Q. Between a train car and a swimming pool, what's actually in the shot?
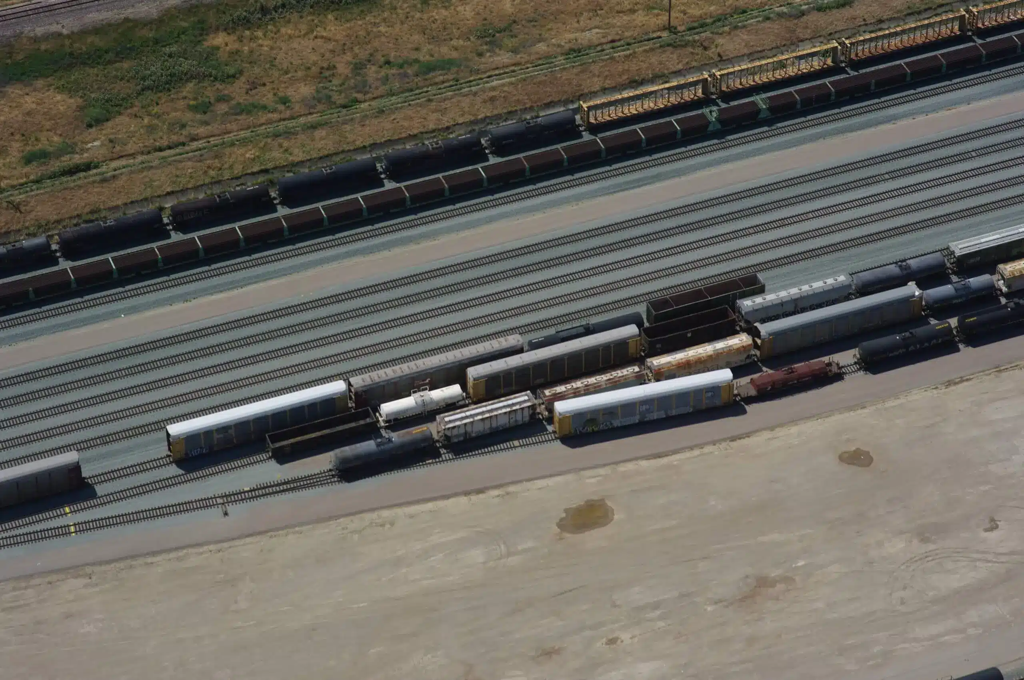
train car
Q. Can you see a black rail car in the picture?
Yes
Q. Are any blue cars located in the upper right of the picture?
No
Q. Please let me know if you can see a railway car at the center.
Yes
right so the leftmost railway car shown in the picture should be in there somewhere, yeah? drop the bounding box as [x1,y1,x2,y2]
[0,238,58,268]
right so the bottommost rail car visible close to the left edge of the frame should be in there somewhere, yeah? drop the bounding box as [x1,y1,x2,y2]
[12,257,137,306]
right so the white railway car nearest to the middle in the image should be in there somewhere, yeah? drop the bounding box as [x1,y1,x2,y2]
[375,384,468,428]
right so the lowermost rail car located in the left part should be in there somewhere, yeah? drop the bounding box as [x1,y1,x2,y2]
[330,426,440,476]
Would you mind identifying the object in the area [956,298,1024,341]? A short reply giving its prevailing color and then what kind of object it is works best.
black rail car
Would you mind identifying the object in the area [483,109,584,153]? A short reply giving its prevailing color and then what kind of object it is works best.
black rail car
